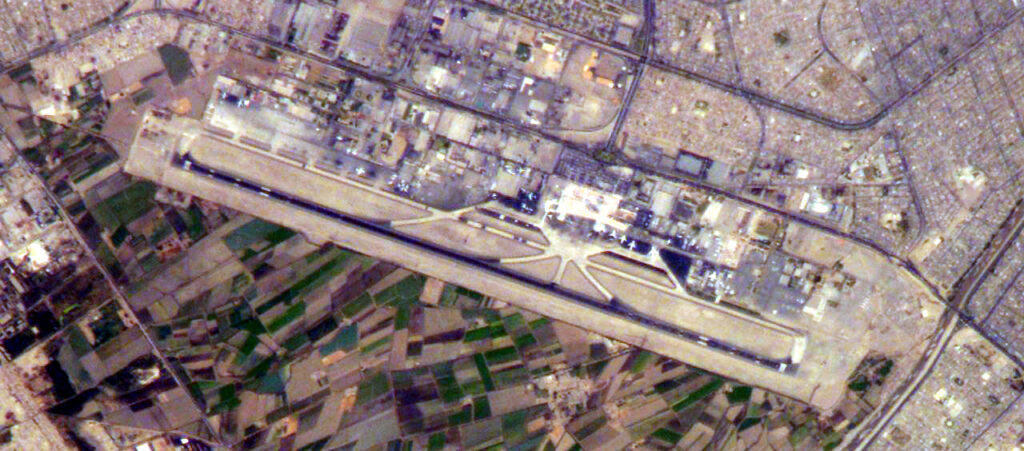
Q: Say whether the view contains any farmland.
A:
Yes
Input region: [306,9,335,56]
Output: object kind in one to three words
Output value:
building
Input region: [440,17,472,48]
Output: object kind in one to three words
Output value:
building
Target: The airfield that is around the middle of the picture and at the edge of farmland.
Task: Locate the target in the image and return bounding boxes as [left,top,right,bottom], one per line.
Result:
[125,74,866,408]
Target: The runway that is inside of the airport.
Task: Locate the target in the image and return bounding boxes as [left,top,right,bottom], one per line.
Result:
[170,151,801,377]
